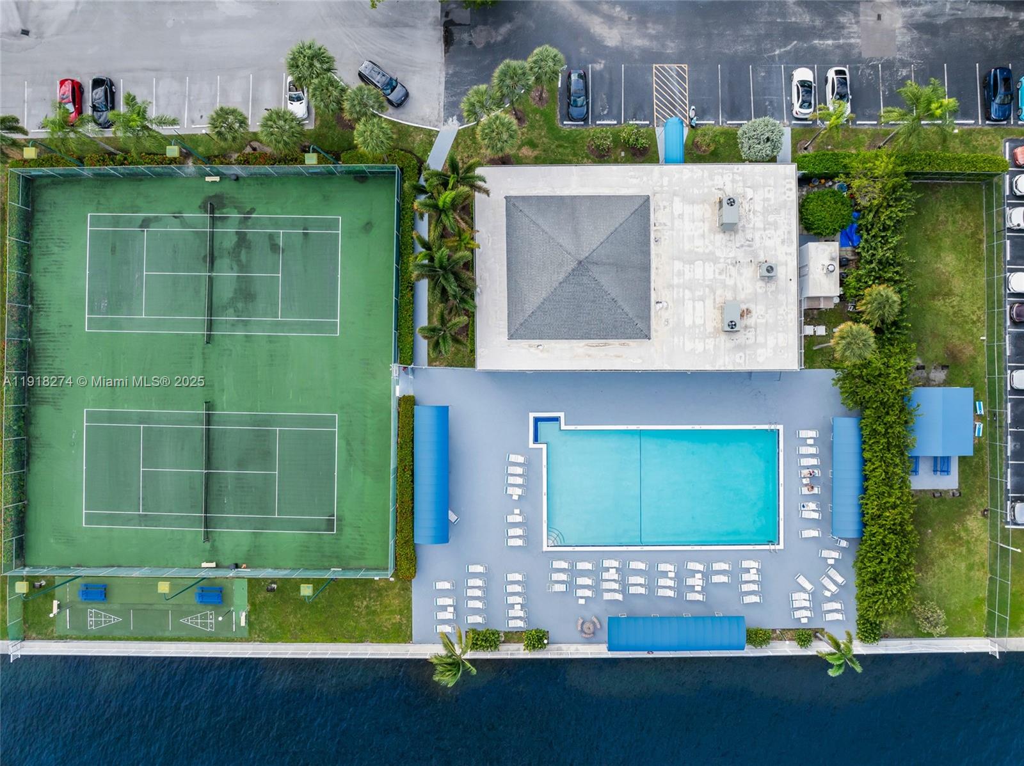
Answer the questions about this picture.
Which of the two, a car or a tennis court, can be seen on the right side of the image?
car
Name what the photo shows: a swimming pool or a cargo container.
swimming pool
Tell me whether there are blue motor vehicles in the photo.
Yes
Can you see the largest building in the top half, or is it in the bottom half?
top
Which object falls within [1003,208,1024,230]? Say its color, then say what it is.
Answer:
white car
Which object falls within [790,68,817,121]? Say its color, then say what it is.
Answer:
white car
